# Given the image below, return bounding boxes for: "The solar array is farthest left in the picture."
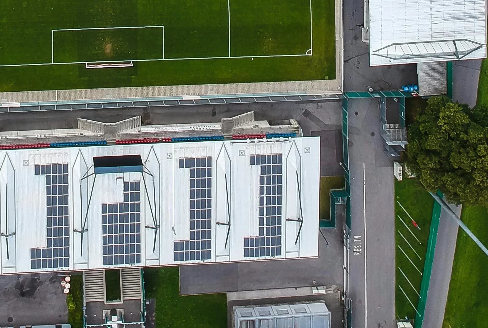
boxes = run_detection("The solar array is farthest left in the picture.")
[30,163,70,269]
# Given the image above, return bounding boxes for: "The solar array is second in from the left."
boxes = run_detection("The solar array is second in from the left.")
[102,181,141,266]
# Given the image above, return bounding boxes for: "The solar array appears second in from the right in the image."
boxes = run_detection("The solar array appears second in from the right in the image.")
[174,156,212,262]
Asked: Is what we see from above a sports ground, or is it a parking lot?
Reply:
sports ground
